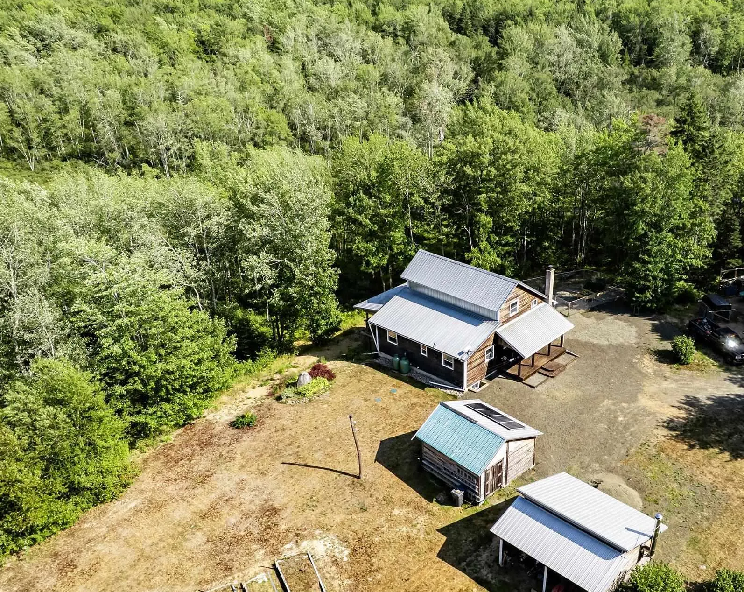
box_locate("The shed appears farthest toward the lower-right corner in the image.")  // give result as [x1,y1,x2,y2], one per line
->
[491,473,667,592]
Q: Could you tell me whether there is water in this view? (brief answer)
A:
No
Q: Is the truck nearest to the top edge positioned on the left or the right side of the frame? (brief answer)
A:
right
